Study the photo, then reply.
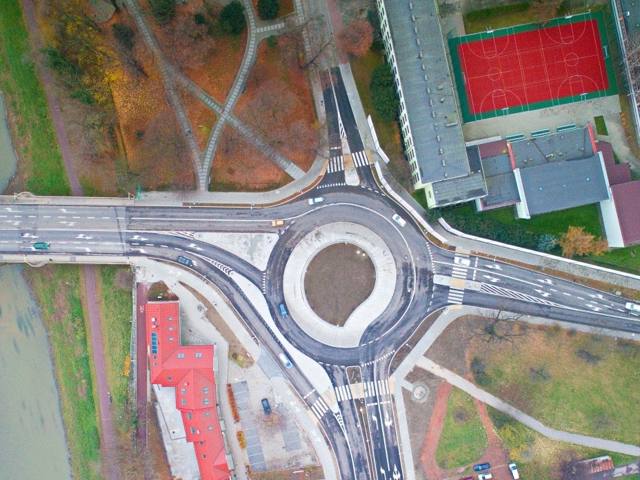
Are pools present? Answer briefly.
No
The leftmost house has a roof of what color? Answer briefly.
red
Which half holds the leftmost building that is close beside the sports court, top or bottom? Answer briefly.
top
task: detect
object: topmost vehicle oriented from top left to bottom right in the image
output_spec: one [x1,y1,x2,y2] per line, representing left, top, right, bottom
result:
[393,214,406,229]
